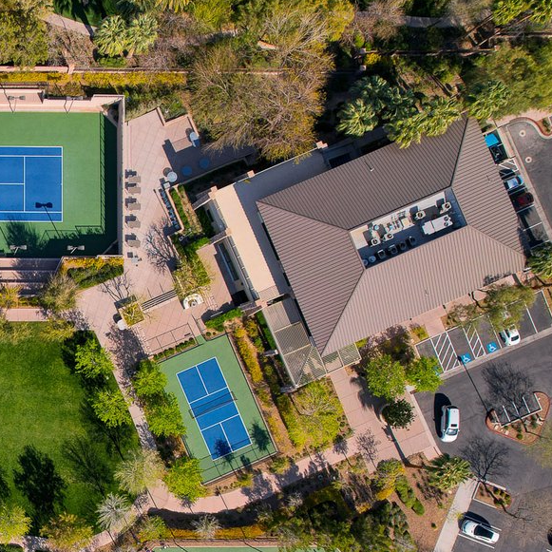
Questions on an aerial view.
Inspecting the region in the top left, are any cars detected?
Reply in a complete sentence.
No, no car is visible in the top left.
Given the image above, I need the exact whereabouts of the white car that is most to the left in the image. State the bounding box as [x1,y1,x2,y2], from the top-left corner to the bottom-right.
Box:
[443,407,462,438]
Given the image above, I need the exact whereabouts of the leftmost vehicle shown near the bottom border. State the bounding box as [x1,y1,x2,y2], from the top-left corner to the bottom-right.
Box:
[465,520,499,543]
